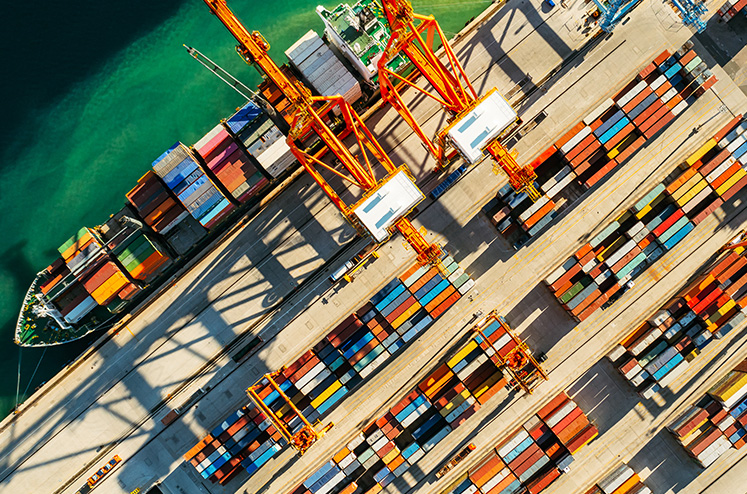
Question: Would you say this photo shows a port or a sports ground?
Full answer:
This looks like a port.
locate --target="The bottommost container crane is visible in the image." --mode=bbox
[247,369,335,456]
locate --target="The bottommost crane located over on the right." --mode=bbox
[467,313,550,396]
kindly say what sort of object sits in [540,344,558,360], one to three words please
vehicle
